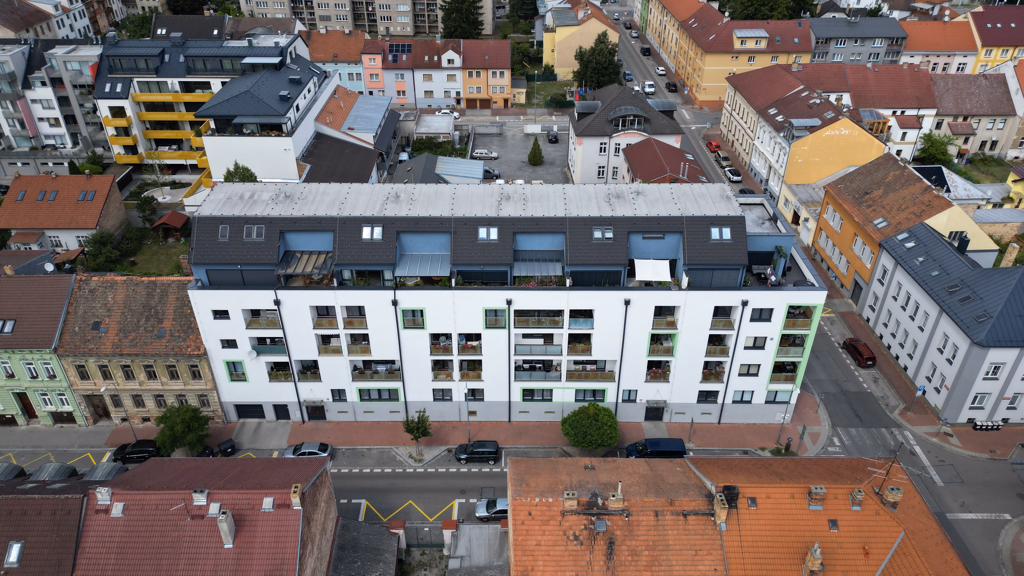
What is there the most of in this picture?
buildings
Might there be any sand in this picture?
No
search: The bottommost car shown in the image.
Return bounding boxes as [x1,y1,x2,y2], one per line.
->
[477,492,508,520]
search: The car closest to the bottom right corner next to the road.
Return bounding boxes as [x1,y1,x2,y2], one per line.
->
[844,341,879,371]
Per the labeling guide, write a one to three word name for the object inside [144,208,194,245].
gazebo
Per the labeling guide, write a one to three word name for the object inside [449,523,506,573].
shed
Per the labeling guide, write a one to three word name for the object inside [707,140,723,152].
vehicle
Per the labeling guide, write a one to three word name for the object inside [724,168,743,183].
car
